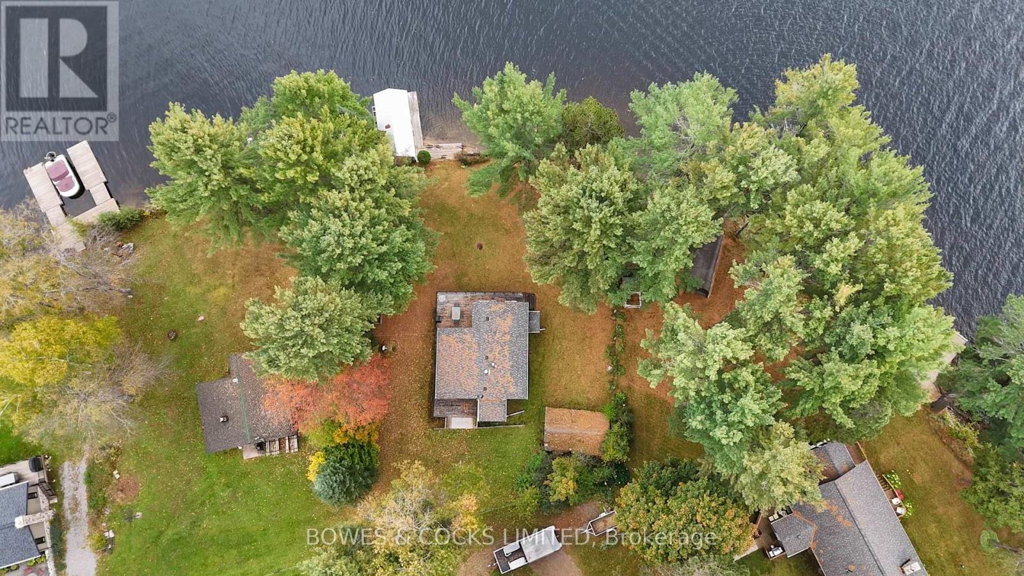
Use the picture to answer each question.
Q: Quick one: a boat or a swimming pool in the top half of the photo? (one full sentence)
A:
Visible in the top half of the photo is a boat.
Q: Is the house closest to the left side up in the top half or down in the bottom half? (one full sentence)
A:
You can find the house closest to the left side in the bottom half.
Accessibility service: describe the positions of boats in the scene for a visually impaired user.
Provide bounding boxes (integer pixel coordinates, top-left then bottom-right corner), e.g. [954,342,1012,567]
[41,149,74,195]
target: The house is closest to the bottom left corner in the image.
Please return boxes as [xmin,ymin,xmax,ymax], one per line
[0,455,58,568]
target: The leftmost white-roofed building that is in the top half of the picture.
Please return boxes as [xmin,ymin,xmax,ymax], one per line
[373,88,424,159]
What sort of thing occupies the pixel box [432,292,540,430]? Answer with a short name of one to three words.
house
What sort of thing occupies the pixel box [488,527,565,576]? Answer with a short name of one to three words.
trailer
